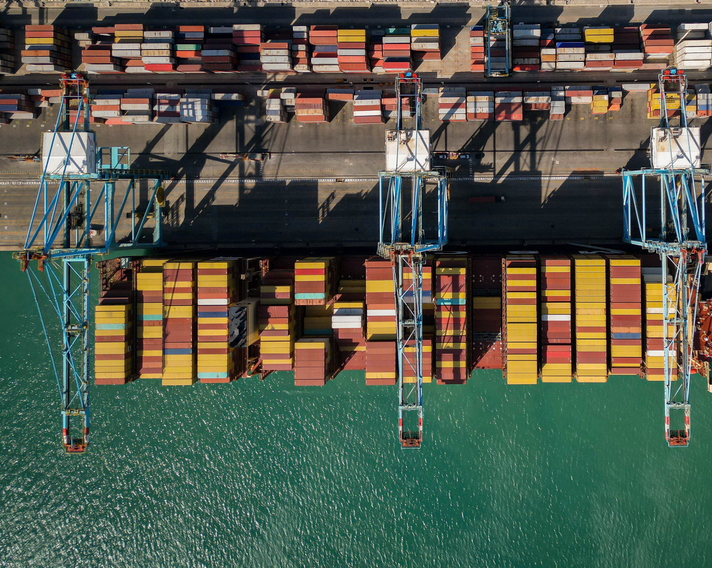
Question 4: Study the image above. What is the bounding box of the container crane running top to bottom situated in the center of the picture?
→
[375,67,460,452]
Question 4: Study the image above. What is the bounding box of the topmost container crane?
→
[481,1,512,83]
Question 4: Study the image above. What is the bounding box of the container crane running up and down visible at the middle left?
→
[17,69,175,454]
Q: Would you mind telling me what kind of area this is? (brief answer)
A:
port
